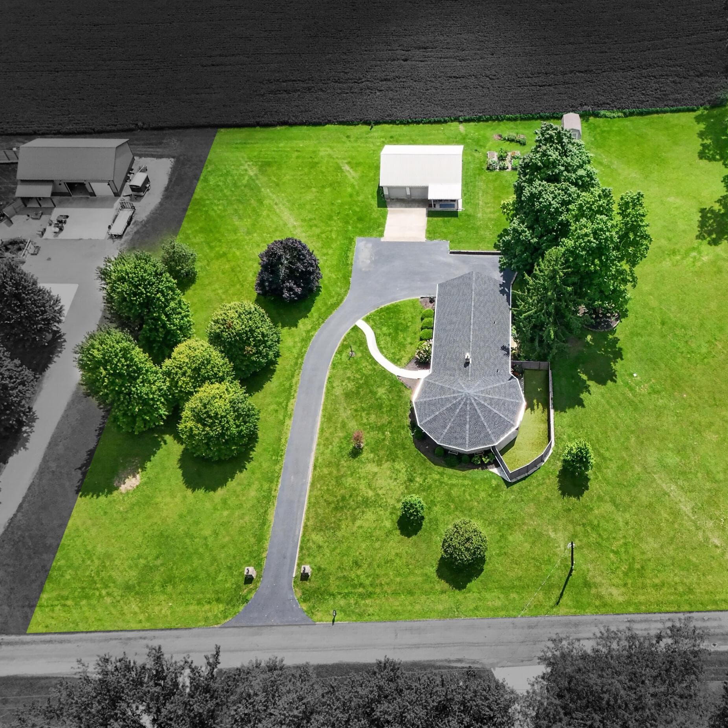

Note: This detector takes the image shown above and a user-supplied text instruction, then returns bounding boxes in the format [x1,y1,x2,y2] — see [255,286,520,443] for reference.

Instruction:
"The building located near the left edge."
[15,139,136,207]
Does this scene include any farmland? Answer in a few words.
Yes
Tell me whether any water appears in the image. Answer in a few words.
No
